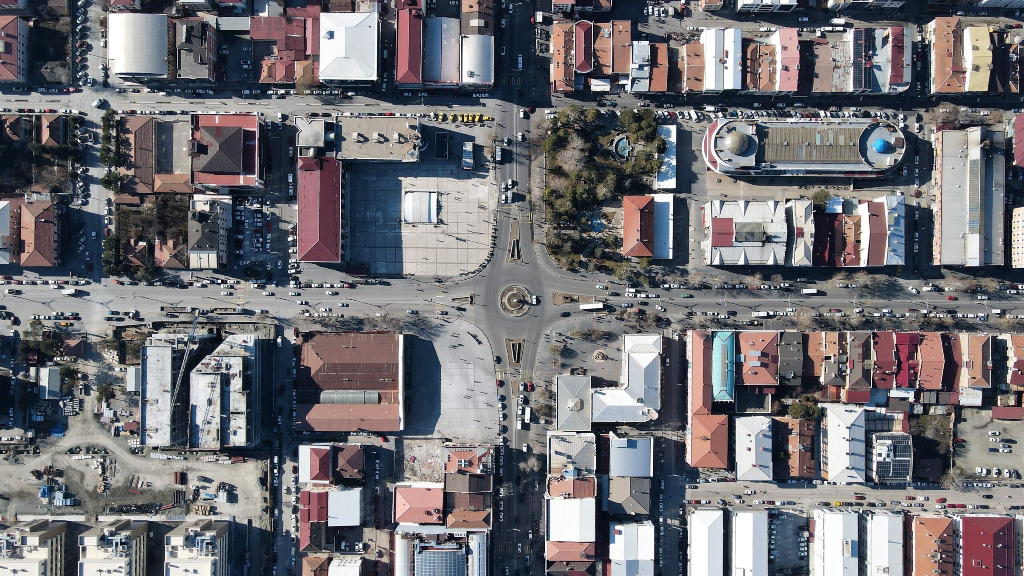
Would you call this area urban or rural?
urban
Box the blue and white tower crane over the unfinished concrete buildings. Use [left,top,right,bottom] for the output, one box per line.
[153,307,215,470]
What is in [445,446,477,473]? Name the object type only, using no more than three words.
building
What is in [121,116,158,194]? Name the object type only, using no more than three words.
building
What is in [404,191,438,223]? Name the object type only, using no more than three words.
tent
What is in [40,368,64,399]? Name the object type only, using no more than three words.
shed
